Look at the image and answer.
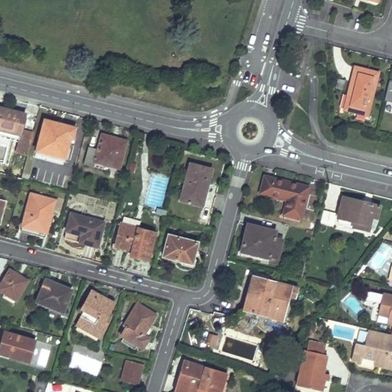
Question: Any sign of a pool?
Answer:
Yes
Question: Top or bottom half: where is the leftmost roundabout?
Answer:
top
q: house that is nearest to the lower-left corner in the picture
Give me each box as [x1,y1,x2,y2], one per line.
[0,331,37,365]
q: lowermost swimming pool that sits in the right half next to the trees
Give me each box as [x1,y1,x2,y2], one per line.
[222,336,258,362]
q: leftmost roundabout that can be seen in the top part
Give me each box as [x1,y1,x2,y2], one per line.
[223,104,278,158]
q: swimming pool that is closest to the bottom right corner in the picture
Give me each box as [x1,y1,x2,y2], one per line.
[332,325,356,341]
